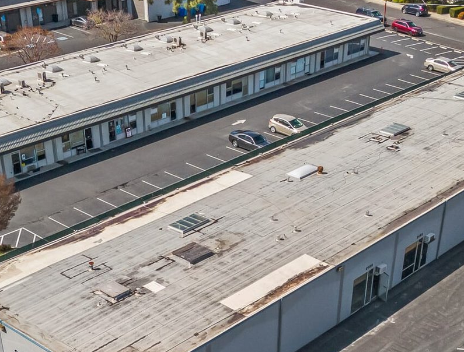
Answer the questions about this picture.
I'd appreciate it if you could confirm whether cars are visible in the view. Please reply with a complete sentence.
Yes, the photo shows a car.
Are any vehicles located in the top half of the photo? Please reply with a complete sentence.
Yes, in the top half of the photo there is a vehicle.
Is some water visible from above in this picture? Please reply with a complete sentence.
No, there's no water in this view.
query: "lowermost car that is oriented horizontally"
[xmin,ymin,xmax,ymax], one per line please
[231,131,269,150]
